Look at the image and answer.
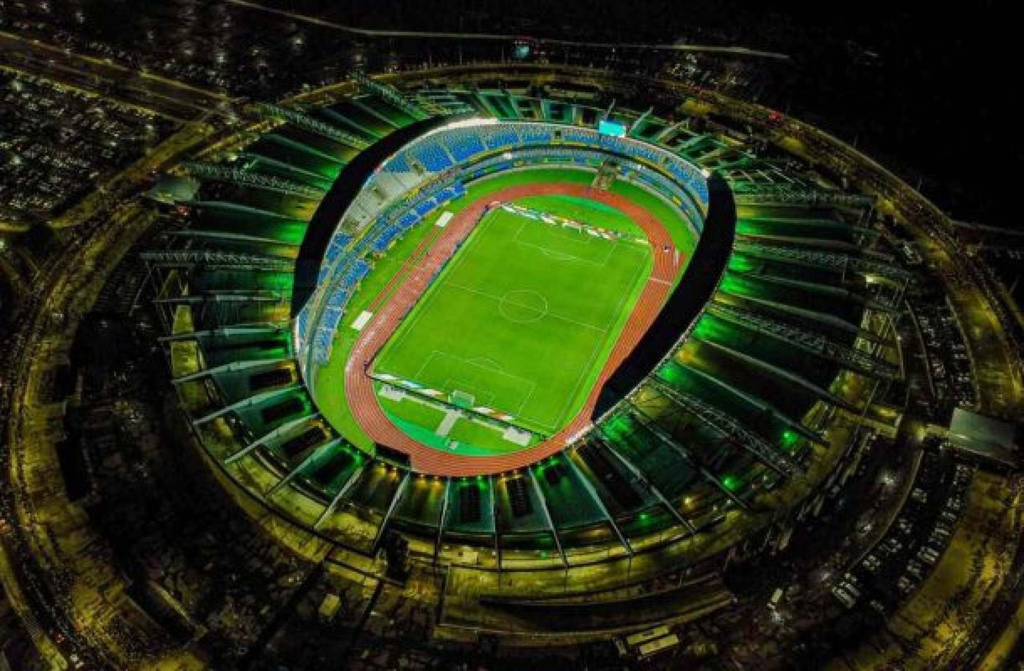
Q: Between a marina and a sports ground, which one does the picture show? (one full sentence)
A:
It's a sports ground.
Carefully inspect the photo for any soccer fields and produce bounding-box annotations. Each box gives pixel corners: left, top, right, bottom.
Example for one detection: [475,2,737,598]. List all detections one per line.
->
[370,205,657,435]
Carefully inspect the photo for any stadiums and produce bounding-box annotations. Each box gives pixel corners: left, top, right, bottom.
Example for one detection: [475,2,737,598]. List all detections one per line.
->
[139,74,915,667]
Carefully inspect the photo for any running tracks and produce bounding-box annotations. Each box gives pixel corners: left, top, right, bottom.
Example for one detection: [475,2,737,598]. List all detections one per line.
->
[346,180,693,475]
